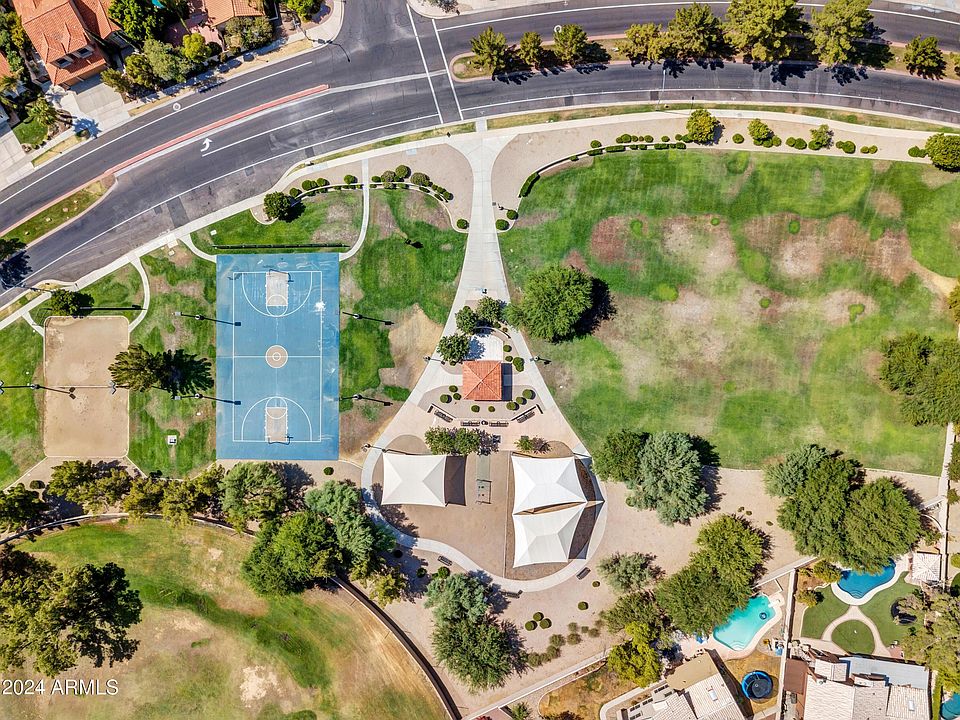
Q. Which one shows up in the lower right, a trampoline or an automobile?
trampoline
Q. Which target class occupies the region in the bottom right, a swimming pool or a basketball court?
swimming pool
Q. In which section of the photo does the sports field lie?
right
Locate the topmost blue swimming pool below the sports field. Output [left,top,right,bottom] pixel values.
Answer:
[832,551,901,605]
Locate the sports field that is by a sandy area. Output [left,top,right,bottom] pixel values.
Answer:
[498,142,960,479]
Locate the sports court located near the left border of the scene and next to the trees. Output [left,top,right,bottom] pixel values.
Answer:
[43,314,129,458]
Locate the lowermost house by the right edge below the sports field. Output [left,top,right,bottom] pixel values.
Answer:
[782,648,929,720]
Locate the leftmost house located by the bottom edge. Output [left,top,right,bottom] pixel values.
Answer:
[623,646,748,720]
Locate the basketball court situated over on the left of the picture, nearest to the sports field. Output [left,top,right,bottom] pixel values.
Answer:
[216,253,339,460]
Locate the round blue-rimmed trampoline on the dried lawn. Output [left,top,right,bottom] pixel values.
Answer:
[744,672,778,708]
